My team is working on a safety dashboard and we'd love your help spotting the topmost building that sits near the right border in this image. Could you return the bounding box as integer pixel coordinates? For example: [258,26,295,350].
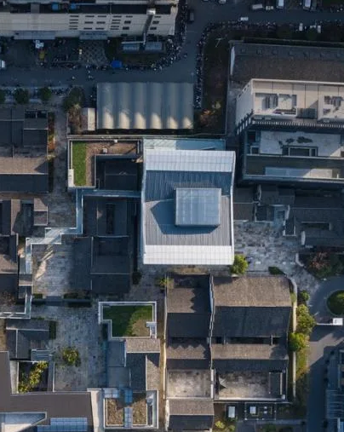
[223,42,344,91]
